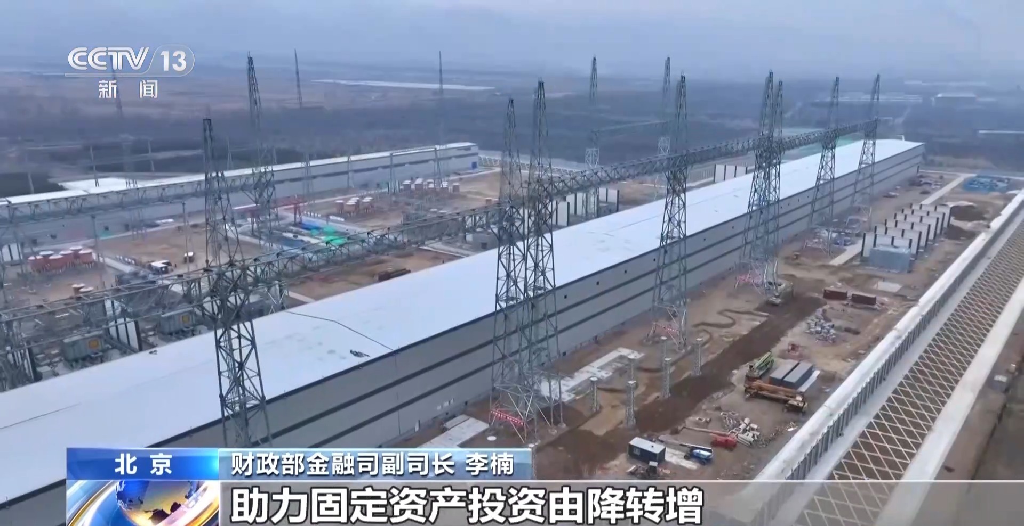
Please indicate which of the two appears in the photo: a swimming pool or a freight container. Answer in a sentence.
There is a freight container in the scene.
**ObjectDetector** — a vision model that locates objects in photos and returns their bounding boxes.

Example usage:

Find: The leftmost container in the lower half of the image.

[629,437,665,466]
